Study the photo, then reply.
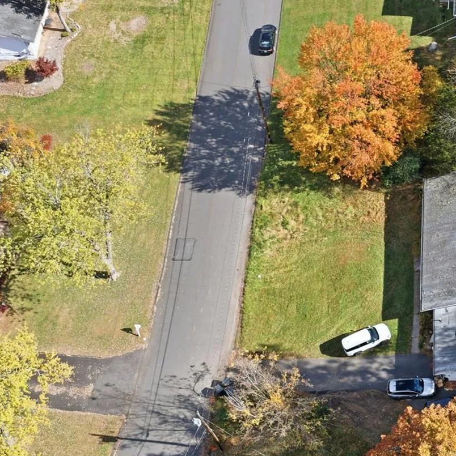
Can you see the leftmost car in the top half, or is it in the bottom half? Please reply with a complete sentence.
It is in the top half that the leftmost car appears.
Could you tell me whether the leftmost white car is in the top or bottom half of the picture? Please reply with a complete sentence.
You can find the leftmost white car in the bottom half.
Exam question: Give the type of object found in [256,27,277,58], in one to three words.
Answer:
car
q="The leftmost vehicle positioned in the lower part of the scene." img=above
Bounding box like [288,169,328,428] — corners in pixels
[340,326,392,360]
